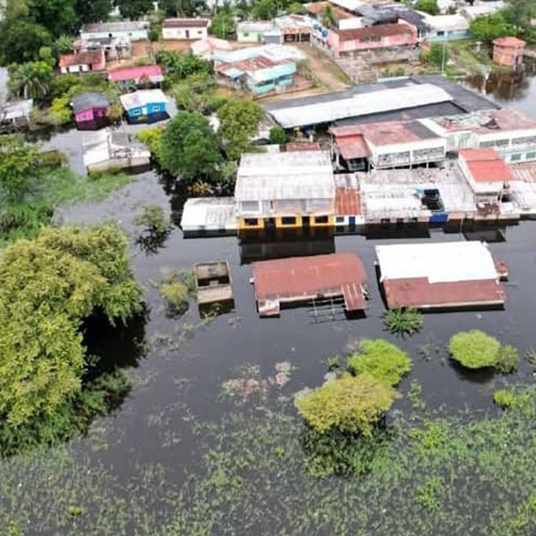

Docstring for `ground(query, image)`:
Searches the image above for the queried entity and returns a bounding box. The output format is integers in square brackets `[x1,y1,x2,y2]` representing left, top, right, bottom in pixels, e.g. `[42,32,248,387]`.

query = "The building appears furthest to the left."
[3,100,33,128]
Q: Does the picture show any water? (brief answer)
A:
Yes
